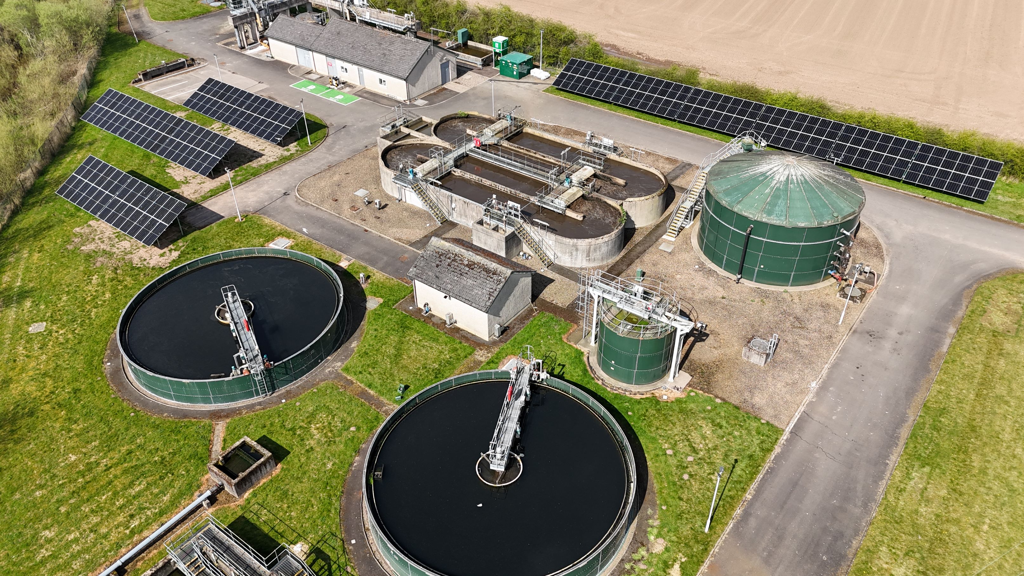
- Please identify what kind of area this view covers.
industrial area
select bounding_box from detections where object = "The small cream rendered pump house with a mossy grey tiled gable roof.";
[408,236,538,341]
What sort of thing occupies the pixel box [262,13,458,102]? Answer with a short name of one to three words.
building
